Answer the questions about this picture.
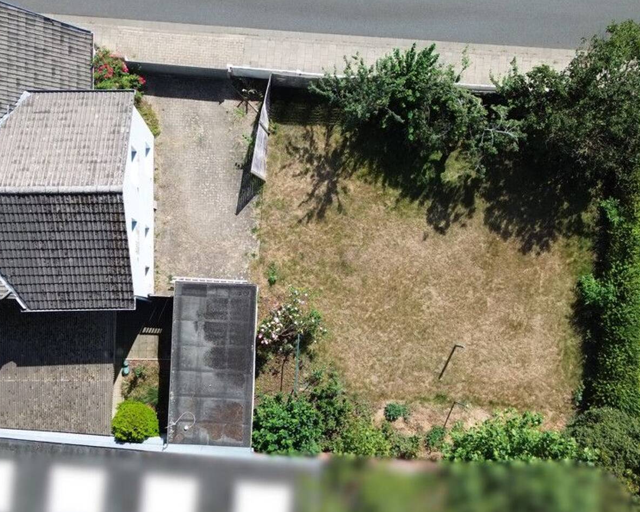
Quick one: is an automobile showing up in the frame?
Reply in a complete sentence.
No, there appears to be no automobile in this shot.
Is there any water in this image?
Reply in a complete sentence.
No, there is no water in the image.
